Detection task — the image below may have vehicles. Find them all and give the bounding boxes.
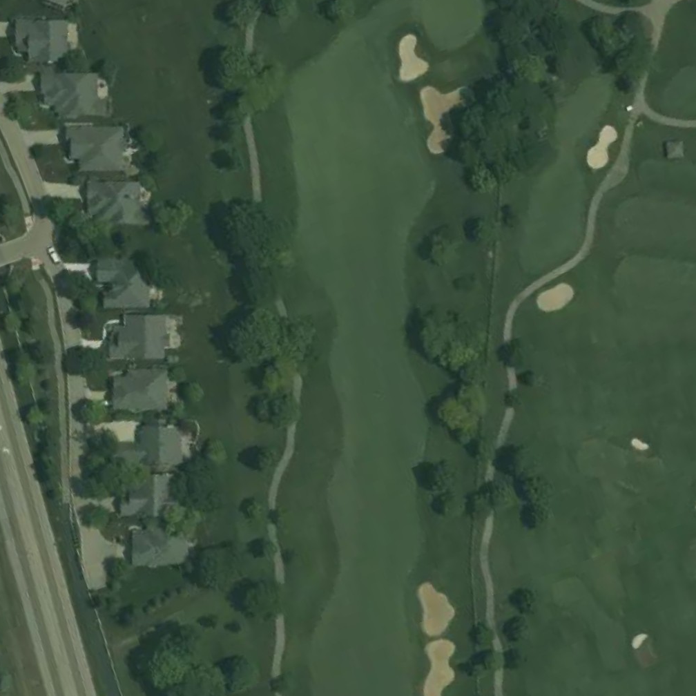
[626,105,633,111]
[47,245,62,264]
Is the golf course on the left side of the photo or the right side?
right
